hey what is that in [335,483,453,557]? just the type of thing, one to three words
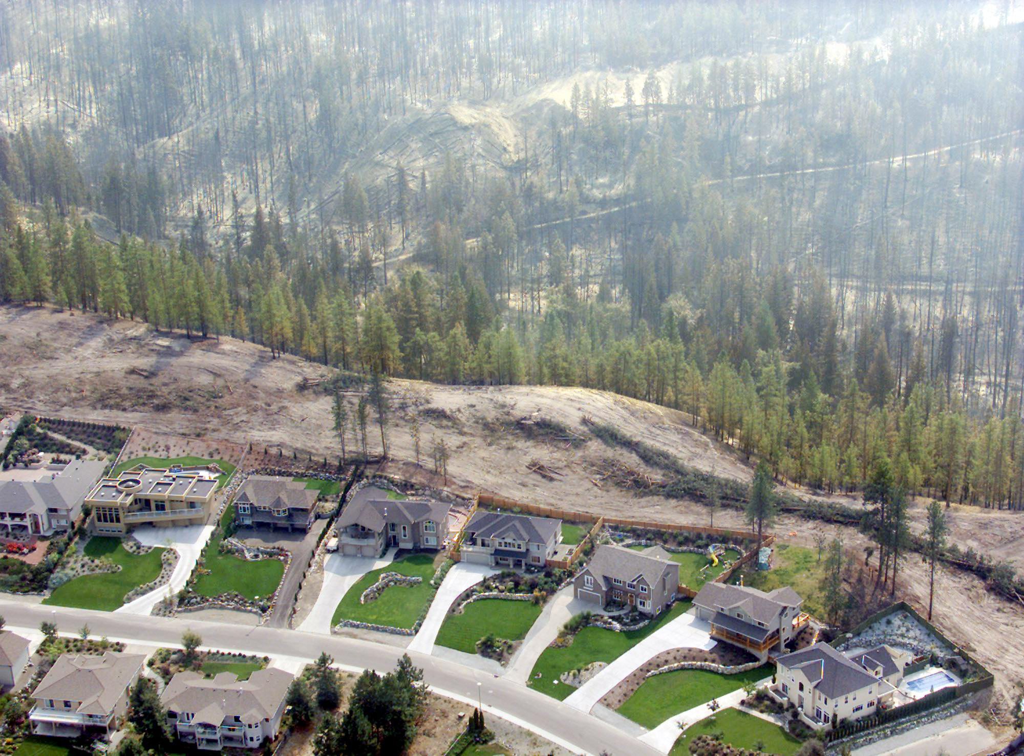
house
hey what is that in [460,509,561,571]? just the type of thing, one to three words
house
